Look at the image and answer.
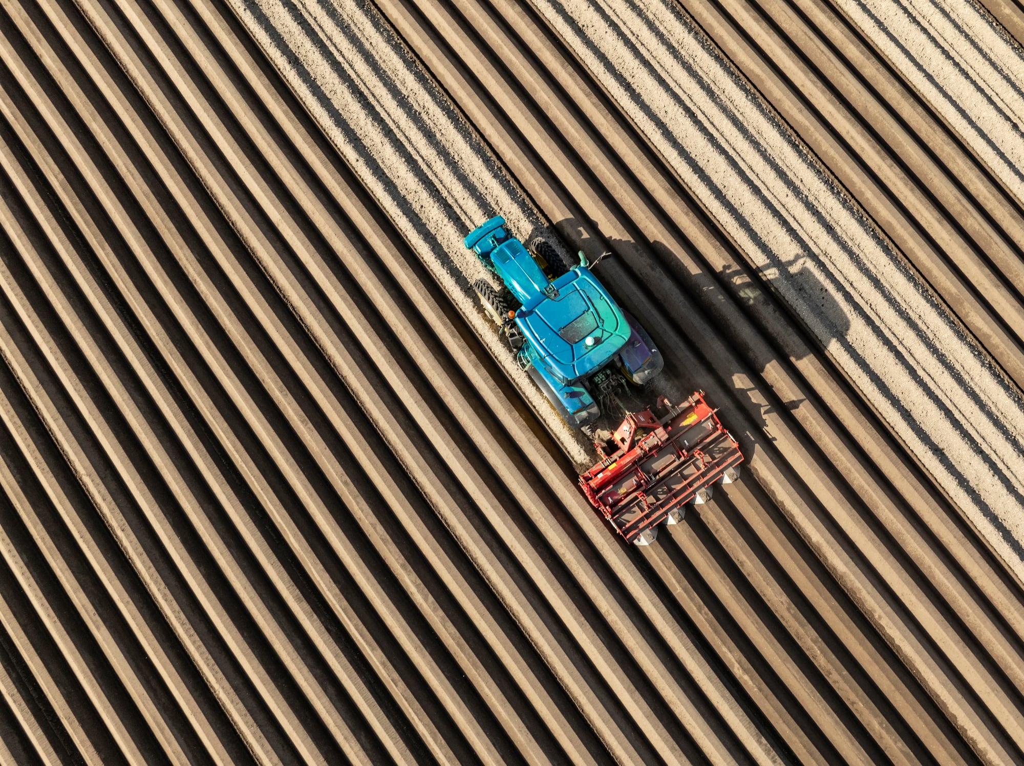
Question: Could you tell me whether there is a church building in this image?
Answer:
No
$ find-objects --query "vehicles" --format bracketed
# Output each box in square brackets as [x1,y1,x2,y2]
[465,218,660,436]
